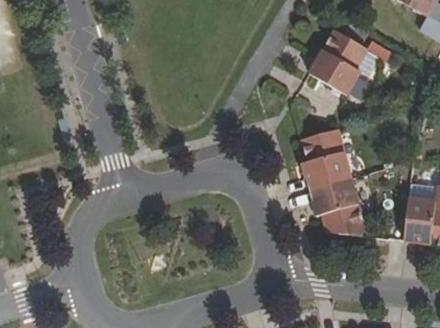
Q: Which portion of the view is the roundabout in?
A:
bottom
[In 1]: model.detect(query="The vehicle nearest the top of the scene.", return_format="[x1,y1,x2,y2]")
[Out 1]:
[288,182,306,194]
